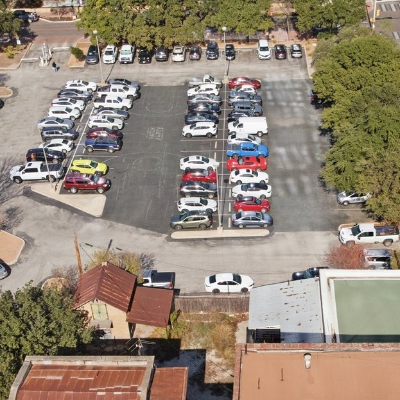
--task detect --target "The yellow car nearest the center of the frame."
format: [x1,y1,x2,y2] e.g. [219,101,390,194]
[70,159,107,175]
